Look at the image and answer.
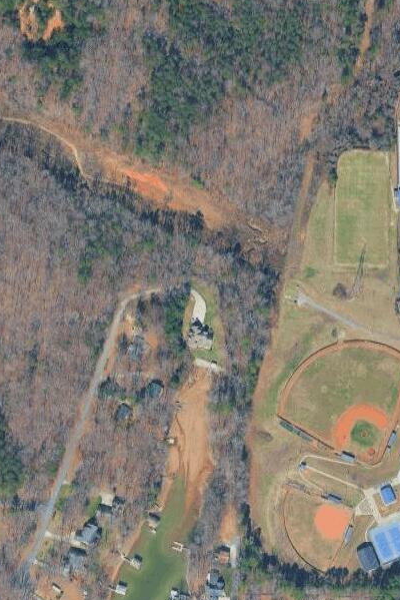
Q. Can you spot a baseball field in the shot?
Yes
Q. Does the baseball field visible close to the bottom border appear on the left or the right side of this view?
right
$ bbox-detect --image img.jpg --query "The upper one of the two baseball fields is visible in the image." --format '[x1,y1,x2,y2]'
[278,339,400,467]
